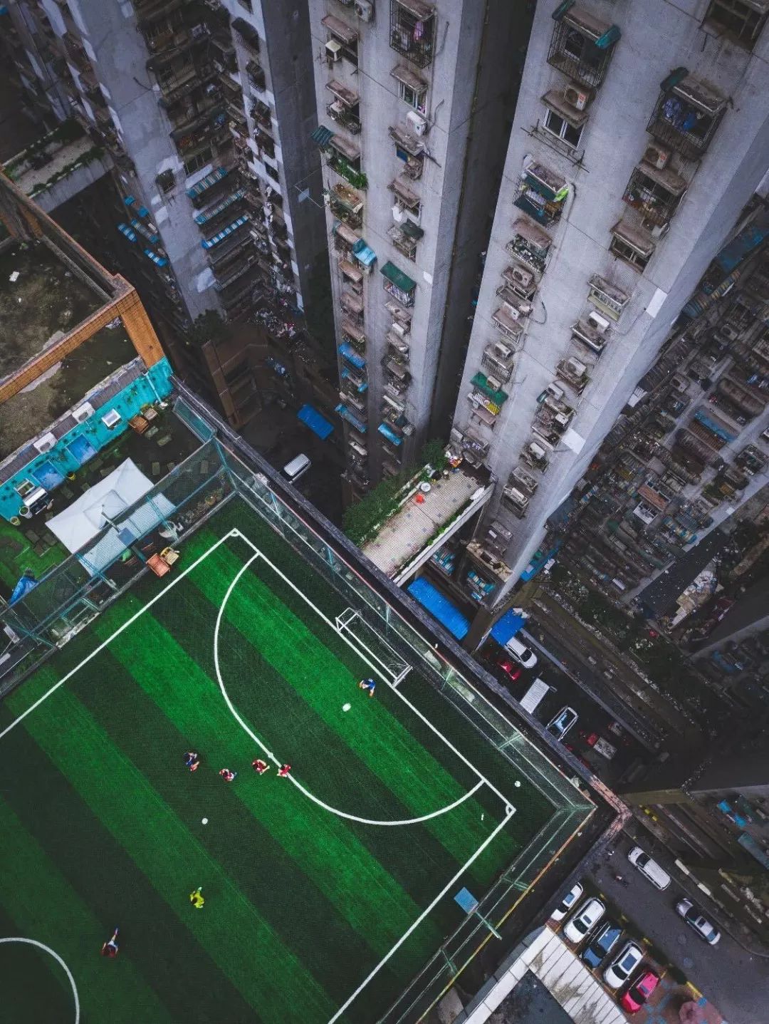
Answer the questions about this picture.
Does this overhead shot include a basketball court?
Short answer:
No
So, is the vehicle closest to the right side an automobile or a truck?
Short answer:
automobile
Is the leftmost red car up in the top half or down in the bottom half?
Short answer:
bottom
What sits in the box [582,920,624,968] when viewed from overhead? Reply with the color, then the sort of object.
blue car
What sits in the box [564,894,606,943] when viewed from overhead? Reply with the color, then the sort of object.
white car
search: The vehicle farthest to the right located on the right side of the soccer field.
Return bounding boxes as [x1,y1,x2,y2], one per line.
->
[674,897,722,947]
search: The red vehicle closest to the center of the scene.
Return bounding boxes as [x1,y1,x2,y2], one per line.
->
[493,659,519,683]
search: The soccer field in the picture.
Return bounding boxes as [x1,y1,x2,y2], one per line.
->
[0,493,558,1024]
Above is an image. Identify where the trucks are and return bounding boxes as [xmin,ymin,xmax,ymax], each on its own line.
[583,730,616,759]
[521,674,553,713]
